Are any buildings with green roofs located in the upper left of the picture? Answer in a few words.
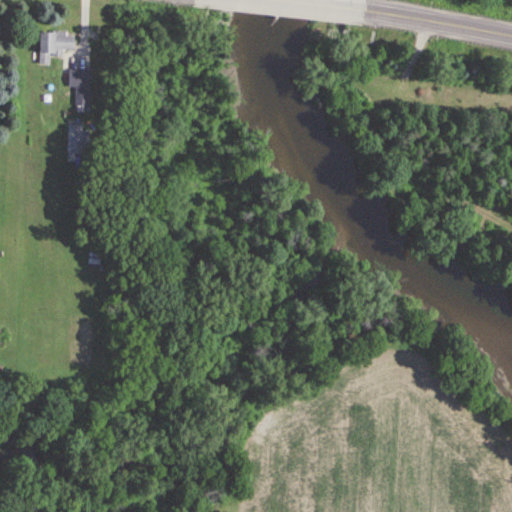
No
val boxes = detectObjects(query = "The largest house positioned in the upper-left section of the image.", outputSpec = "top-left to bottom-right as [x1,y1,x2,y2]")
[40,30,76,65]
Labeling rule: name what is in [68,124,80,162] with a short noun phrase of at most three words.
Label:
house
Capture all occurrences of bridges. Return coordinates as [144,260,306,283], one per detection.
[193,0,368,26]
